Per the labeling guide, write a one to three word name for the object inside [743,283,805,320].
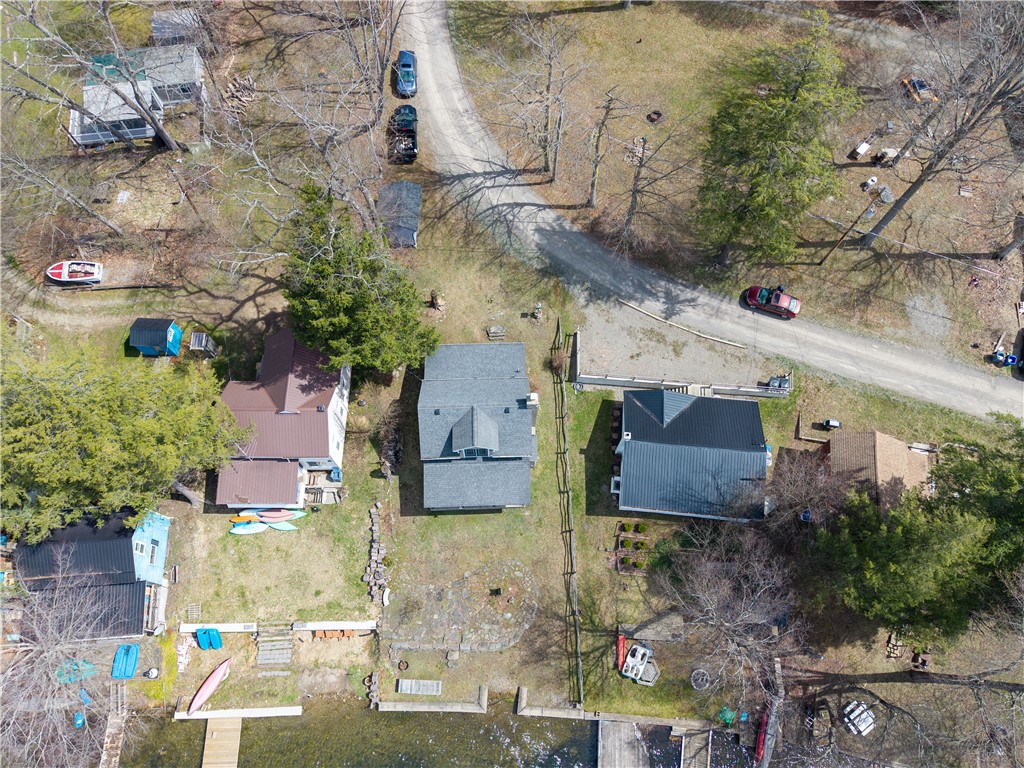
car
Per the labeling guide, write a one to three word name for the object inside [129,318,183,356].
shed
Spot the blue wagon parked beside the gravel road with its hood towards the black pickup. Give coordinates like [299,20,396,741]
[391,48,416,90]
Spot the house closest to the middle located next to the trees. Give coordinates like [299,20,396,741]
[418,344,539,511]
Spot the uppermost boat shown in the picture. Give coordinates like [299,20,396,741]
[42,257,102,281]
